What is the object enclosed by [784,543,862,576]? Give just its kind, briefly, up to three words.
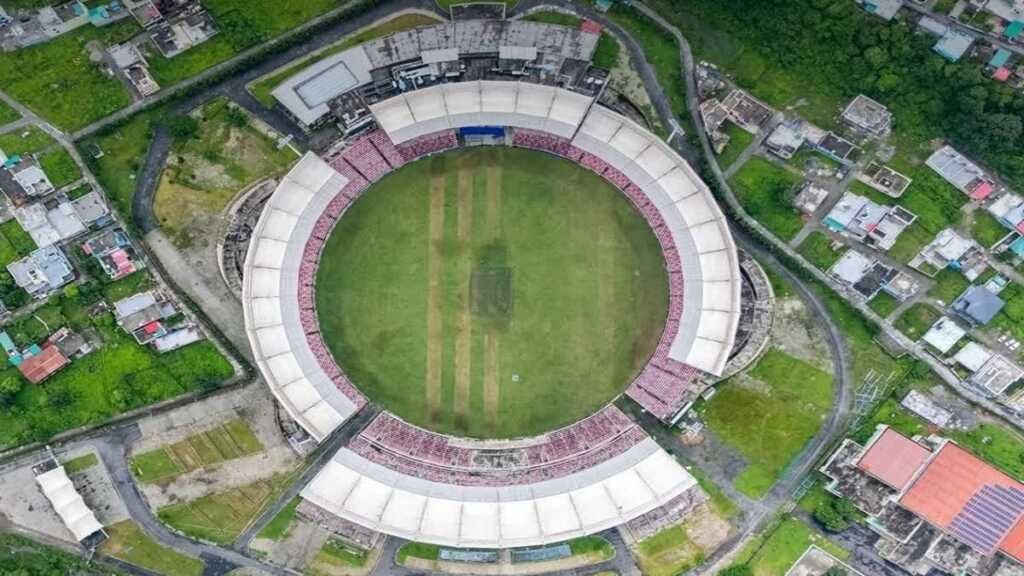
building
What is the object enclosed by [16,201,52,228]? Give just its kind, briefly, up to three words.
house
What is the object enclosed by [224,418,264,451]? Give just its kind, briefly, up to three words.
sports field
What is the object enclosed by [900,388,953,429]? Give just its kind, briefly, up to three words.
shed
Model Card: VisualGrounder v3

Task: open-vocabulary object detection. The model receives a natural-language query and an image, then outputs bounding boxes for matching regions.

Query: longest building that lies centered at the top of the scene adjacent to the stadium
[272,21,608,133]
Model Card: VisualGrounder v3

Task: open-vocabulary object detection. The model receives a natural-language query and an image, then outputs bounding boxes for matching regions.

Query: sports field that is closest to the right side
[316,146,668,438]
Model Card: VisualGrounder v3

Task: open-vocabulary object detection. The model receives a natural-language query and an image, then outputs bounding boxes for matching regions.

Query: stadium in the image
[217,72,774,549]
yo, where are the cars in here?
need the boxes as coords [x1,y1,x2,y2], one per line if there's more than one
[935,298,946,307]
[19,130,30,139]
[1009,343,1019,352]
[105,66,114,76]
[1004,338,1014,347]
[997,334,1007,343]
